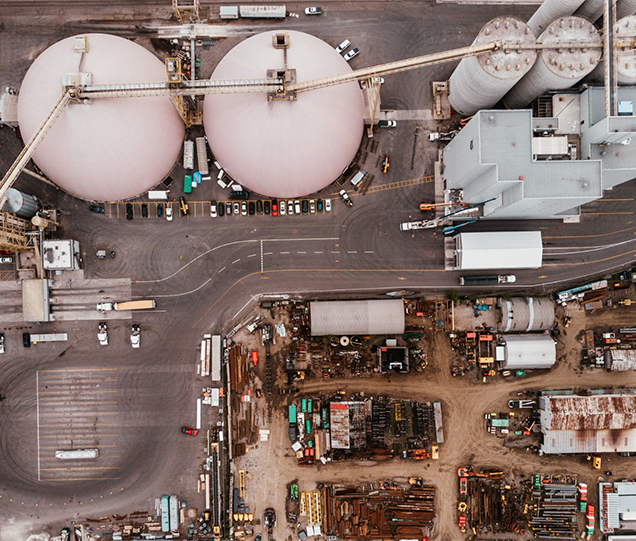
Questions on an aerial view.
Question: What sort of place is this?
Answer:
industrial area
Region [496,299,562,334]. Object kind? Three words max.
shed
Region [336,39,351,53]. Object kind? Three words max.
vehicle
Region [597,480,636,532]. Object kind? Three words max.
building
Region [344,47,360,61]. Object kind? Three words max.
vehicle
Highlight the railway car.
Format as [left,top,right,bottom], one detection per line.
[240,8,288,21]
